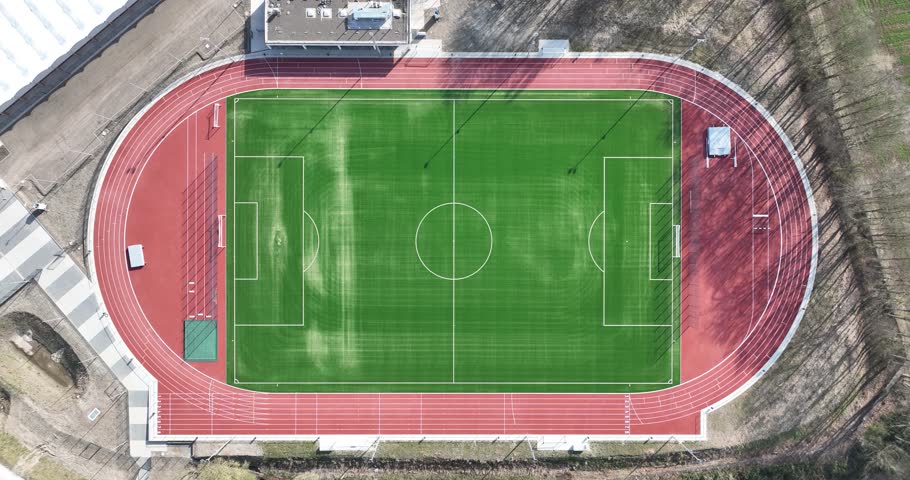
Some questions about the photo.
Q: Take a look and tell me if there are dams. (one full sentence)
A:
No, no dam is visible in the scene.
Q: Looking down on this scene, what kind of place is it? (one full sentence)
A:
The picture captures a sports ground.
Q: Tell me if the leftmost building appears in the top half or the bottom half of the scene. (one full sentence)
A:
The top half of the photo is where the leftmost building is.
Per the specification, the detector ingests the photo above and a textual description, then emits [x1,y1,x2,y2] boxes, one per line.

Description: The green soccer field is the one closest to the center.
[227,89,681,393]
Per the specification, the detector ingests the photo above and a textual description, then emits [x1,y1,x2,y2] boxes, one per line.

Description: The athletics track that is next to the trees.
[95,58,813,435]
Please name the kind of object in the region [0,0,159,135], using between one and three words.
building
